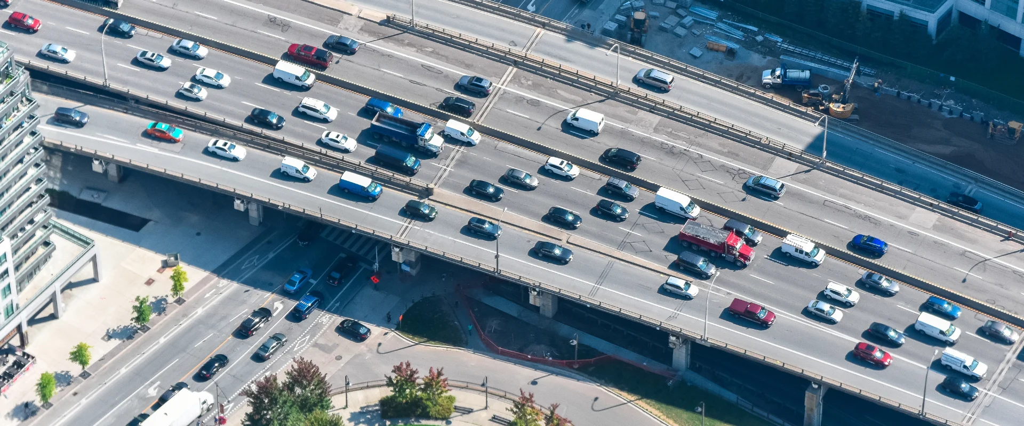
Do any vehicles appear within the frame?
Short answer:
Yes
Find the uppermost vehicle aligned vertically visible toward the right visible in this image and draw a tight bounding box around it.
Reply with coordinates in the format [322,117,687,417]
[629,9,648,55]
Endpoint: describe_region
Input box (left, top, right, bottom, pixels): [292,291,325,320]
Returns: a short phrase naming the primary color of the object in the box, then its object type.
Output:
blue car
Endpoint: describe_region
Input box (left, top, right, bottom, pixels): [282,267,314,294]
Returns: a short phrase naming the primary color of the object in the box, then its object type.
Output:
blue car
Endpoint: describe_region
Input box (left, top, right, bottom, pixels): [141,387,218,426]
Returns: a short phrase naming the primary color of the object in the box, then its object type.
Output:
white truck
